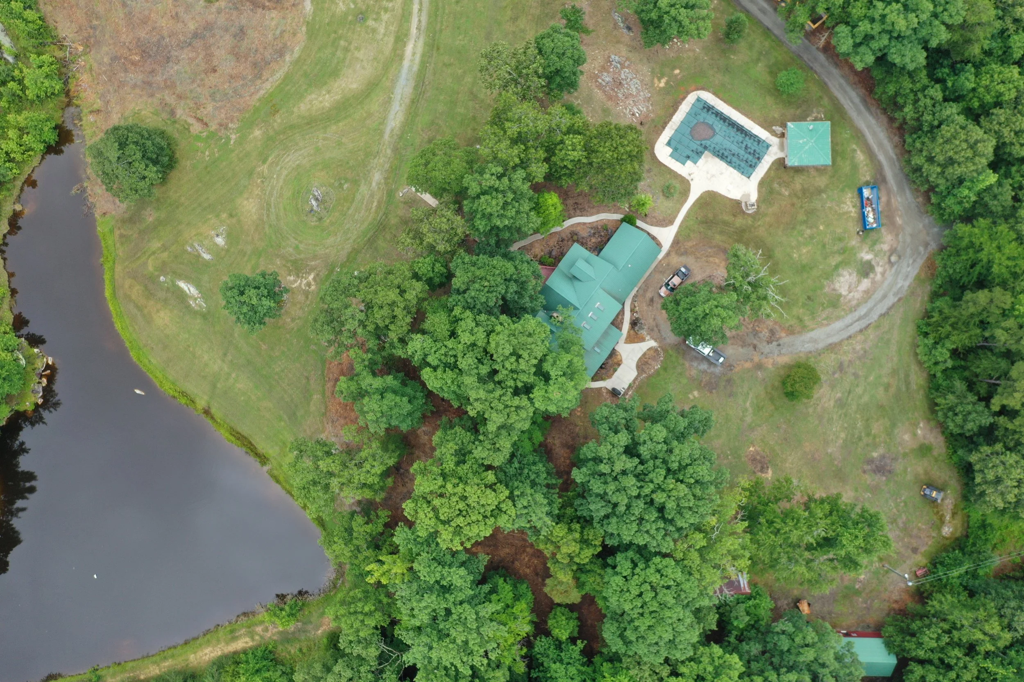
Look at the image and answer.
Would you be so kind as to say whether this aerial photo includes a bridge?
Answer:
No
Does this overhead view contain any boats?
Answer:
No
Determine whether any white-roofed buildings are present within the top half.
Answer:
No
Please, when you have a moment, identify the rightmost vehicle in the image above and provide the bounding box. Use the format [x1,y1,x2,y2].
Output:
[918,484,943,504]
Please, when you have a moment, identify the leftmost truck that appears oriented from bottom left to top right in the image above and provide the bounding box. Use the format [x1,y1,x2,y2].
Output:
[656,259,696,300]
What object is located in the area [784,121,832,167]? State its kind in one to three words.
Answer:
building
